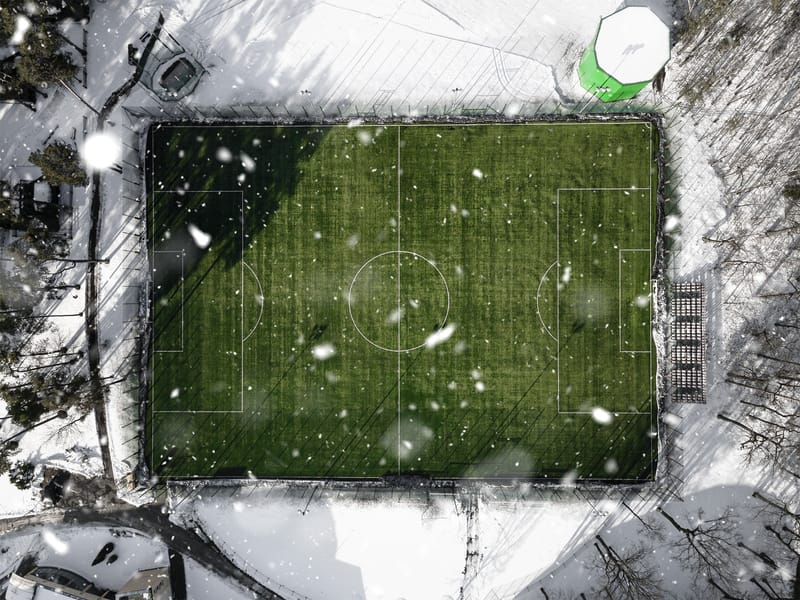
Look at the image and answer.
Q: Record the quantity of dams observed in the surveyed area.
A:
0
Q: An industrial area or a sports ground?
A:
sports ground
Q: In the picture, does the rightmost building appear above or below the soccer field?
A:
above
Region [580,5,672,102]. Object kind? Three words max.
building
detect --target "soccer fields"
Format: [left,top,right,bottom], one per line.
[139,112,668,489]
